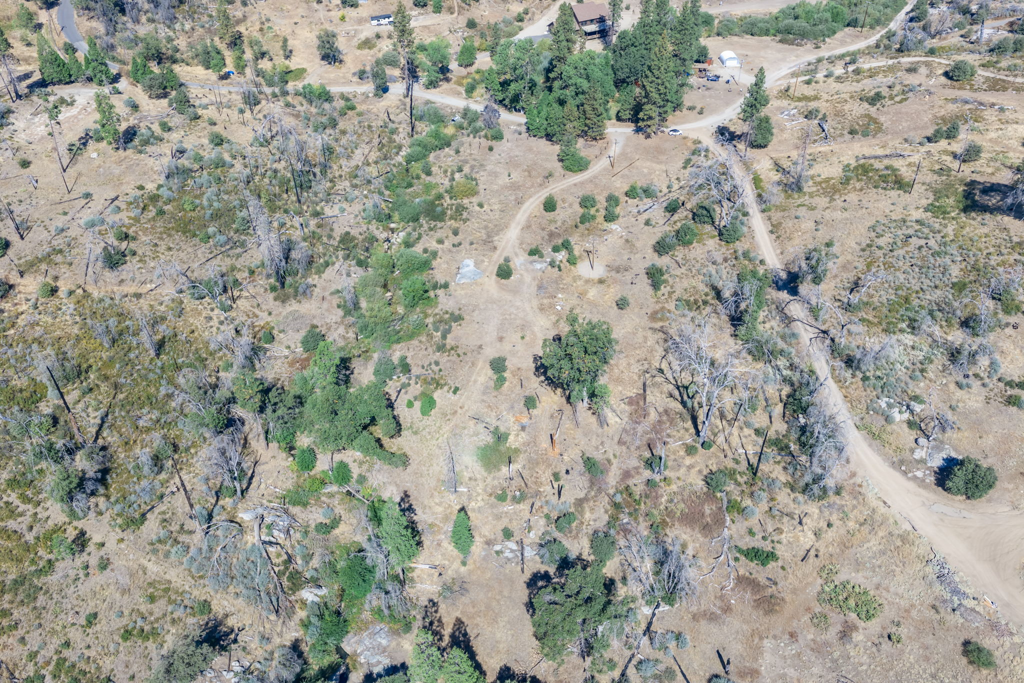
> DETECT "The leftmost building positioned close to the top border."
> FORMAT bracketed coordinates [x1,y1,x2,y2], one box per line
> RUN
[550,0,612,35]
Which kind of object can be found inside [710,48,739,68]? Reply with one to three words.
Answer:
shed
